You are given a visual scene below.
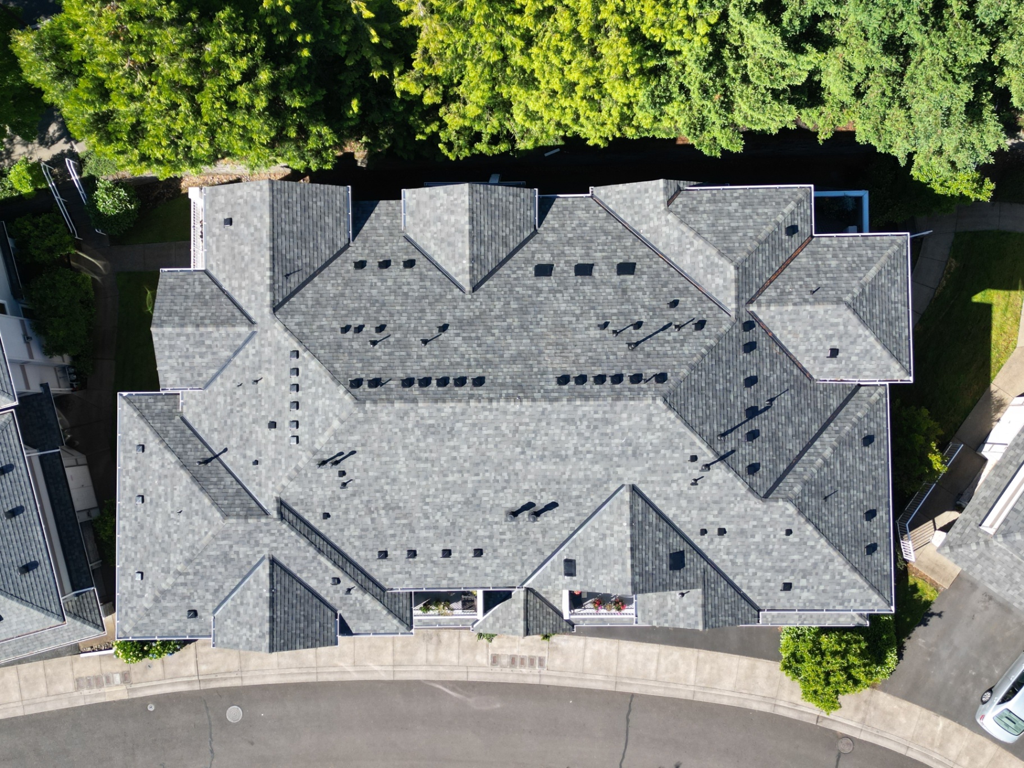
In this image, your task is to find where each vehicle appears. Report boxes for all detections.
[979,649,1024,744]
